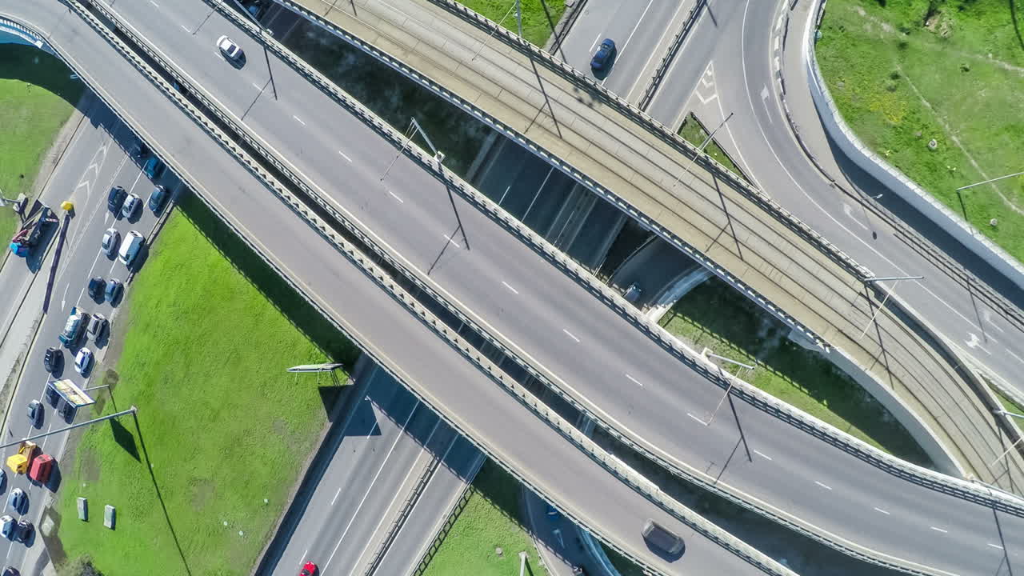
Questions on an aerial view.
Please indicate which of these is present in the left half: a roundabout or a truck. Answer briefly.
truck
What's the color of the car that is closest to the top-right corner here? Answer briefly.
blue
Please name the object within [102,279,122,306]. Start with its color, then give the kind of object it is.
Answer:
blue car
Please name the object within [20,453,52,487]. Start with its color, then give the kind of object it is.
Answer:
red van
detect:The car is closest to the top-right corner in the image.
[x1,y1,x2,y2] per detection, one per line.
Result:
[591,37,617,71]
